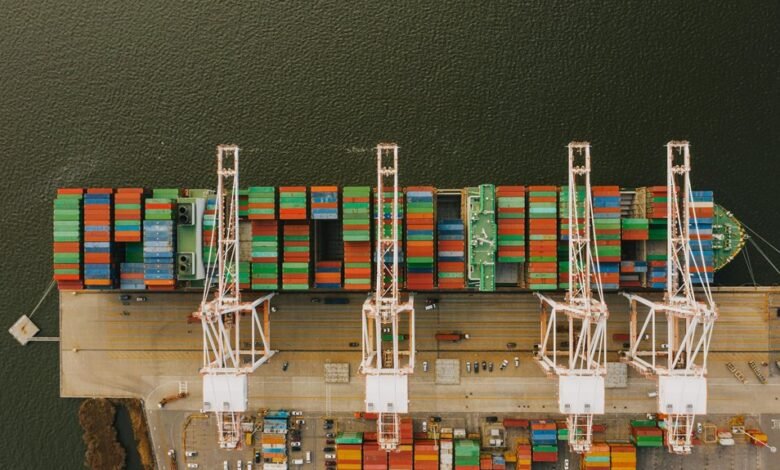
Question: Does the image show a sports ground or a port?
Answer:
port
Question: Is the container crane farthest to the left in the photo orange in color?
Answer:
No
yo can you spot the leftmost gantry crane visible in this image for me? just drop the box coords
[195,142,284,450]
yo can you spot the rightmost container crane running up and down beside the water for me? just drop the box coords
[609,142,721,450]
